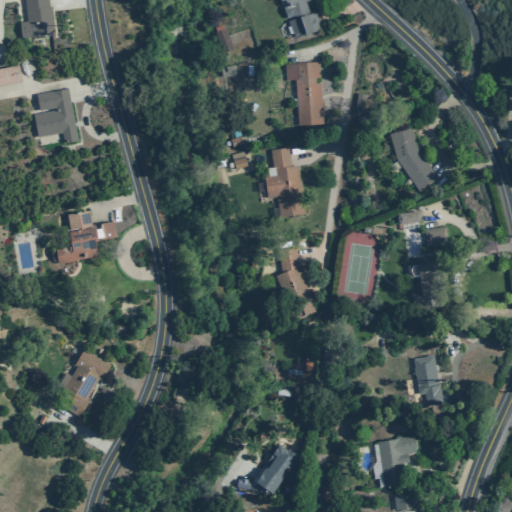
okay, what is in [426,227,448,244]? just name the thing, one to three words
building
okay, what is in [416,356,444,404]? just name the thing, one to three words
house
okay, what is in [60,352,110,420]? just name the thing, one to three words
house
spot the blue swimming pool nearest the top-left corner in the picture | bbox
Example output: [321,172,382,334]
[18,242,34,270]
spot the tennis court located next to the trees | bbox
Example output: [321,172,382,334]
[338,232,376,301]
